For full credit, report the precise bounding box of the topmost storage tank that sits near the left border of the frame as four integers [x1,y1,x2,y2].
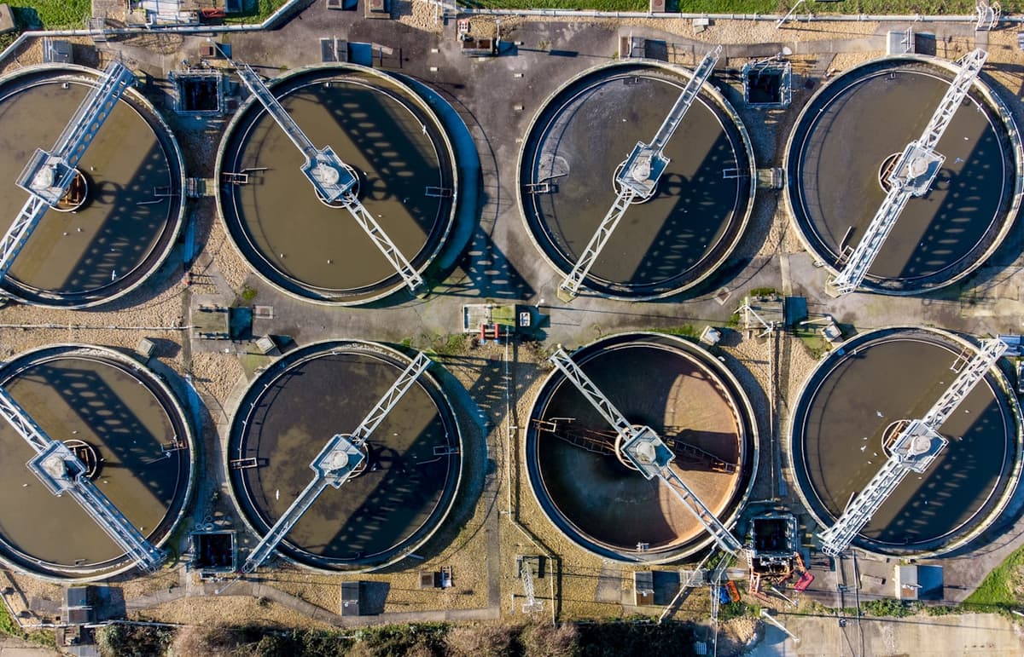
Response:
[0,62,189,308]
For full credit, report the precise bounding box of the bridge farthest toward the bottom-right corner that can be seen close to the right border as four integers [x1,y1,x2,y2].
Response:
[810,336,1013,563]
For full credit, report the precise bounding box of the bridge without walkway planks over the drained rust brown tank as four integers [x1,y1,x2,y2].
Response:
[550,347,747,561]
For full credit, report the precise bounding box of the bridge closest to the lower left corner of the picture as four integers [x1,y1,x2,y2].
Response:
[0,382,181,582]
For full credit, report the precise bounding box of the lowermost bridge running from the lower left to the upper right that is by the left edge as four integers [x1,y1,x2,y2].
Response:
[0,52,153,301]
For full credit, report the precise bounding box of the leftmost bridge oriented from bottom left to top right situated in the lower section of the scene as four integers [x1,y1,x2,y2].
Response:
[240,351,434,576]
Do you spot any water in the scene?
Yes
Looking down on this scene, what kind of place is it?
industrial area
